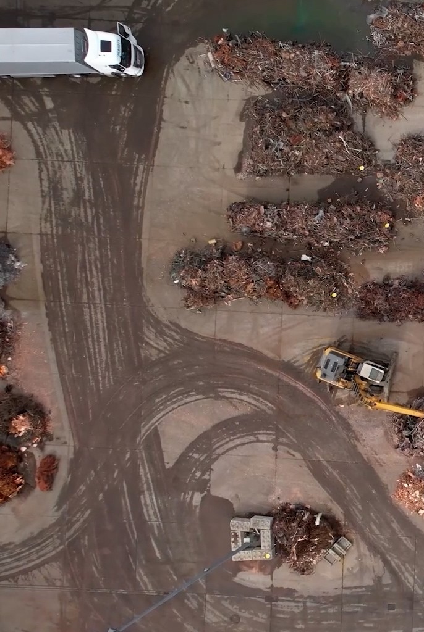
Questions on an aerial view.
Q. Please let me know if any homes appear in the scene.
No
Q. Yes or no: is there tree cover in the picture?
No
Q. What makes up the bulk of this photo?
paved ground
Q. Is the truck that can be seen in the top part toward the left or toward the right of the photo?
left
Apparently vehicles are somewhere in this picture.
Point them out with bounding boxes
[314,343,424,420]
[0,22,145,76]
